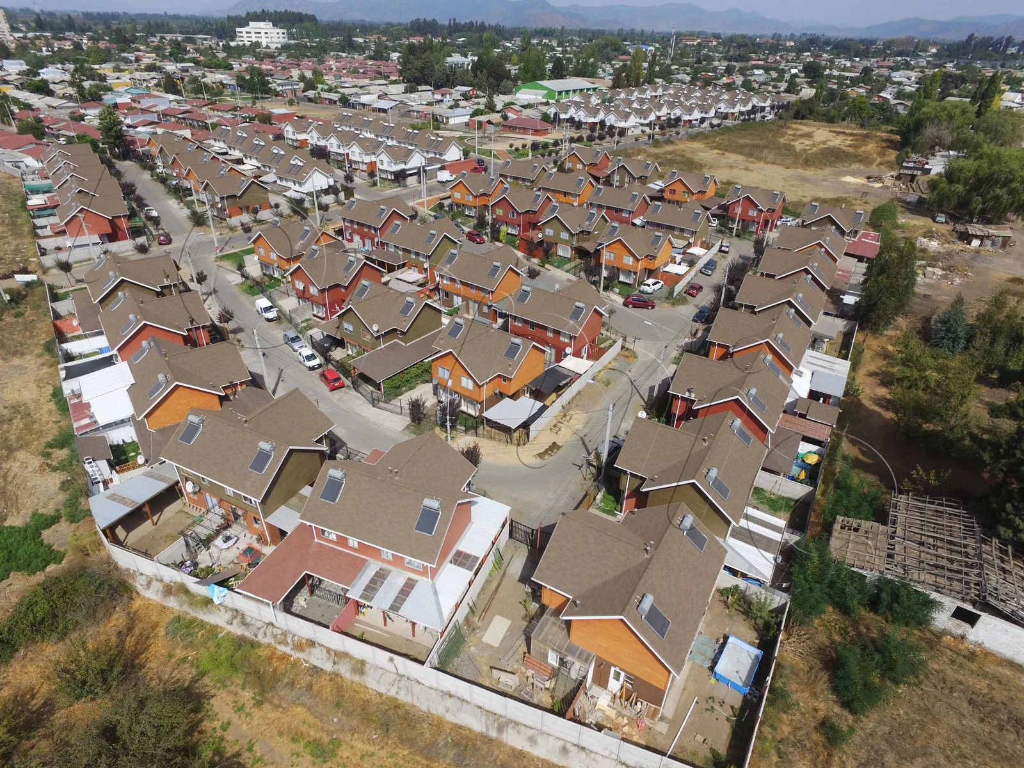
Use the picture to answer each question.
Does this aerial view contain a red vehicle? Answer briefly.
Yes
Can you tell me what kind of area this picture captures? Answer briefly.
residential area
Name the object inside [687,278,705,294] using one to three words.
car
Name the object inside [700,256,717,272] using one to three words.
car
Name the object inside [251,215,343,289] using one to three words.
house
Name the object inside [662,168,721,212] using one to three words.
house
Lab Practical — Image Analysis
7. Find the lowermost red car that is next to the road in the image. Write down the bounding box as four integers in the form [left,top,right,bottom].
[315,361,348,390]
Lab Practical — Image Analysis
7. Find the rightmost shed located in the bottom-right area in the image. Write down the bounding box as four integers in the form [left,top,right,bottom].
[829,495,1024,668]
